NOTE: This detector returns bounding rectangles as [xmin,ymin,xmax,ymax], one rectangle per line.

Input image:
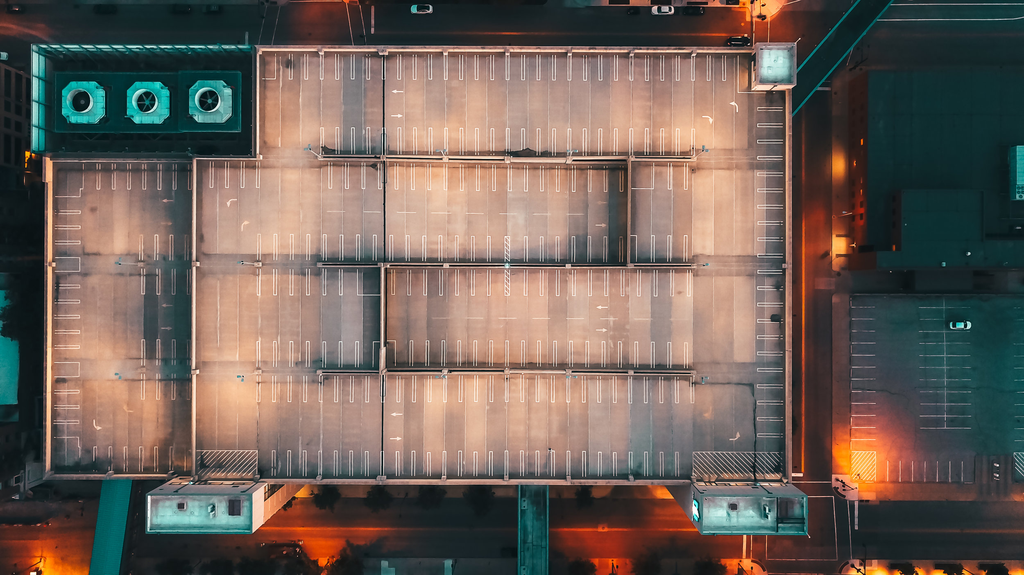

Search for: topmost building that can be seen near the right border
[831,70,1024,270]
